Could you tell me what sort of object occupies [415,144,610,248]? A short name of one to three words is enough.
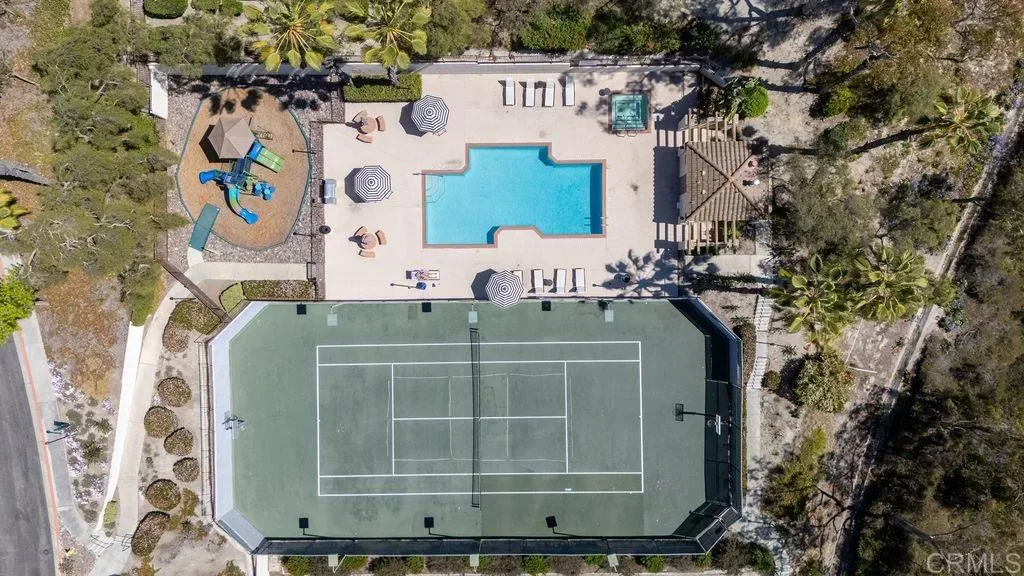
swimming pool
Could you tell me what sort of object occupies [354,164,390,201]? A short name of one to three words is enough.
umbrella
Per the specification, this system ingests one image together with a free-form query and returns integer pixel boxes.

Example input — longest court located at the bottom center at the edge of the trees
[229,299,732,542]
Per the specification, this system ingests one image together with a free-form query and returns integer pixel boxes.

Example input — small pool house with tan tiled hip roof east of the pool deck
[681,140,760,223]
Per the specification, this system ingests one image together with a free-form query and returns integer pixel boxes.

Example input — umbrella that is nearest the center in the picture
[487,270,523,306]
